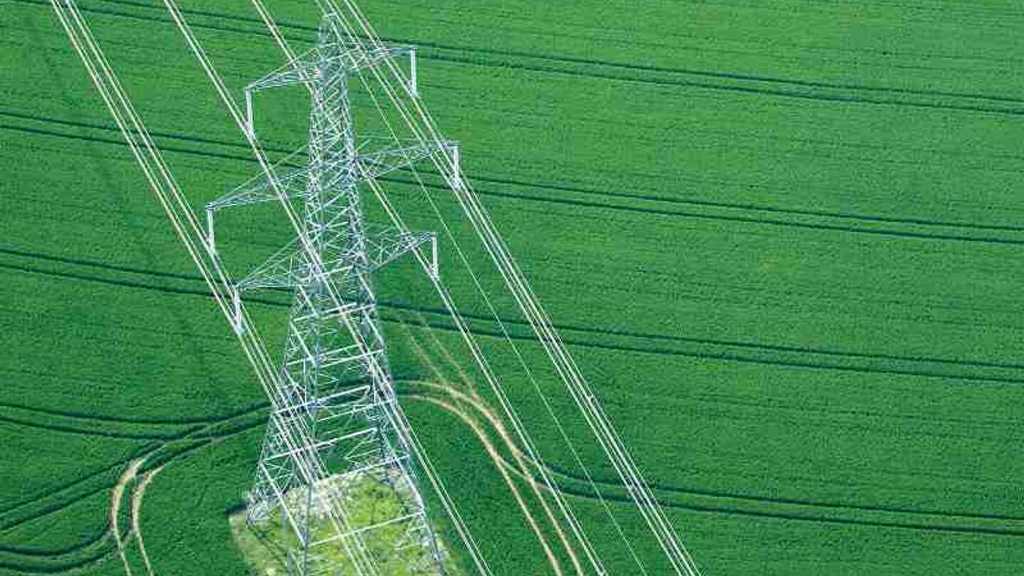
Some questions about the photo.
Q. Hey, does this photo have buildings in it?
No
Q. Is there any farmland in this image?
Yes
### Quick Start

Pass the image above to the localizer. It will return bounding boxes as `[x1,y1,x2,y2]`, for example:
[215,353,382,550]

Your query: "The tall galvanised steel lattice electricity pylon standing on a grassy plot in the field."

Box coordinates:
[208,14,458,576]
